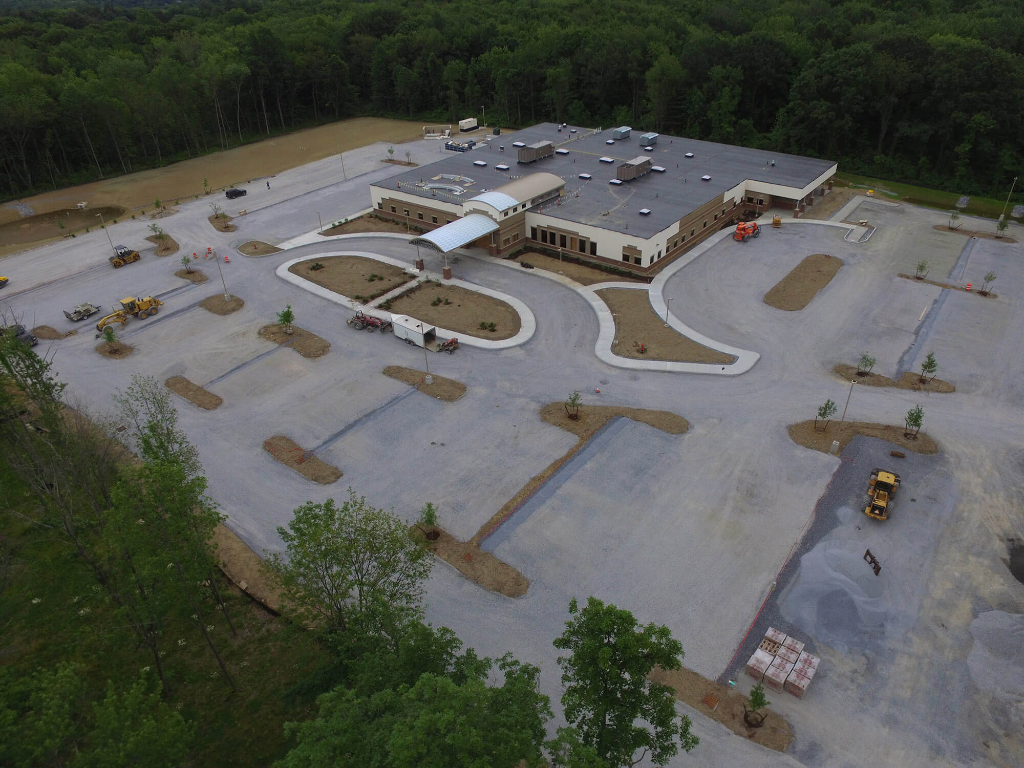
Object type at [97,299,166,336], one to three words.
work vehicle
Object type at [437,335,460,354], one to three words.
work vehicle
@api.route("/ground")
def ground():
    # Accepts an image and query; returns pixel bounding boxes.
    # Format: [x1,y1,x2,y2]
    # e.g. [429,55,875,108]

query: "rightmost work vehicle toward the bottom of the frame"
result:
[863,467,903,520]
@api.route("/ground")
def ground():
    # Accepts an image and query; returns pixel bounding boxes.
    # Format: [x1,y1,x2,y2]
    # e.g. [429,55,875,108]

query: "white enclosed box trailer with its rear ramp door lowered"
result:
[392,311,440,354]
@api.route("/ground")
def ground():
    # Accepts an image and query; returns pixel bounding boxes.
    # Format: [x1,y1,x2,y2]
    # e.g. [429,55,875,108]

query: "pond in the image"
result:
[0,207,126,246]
